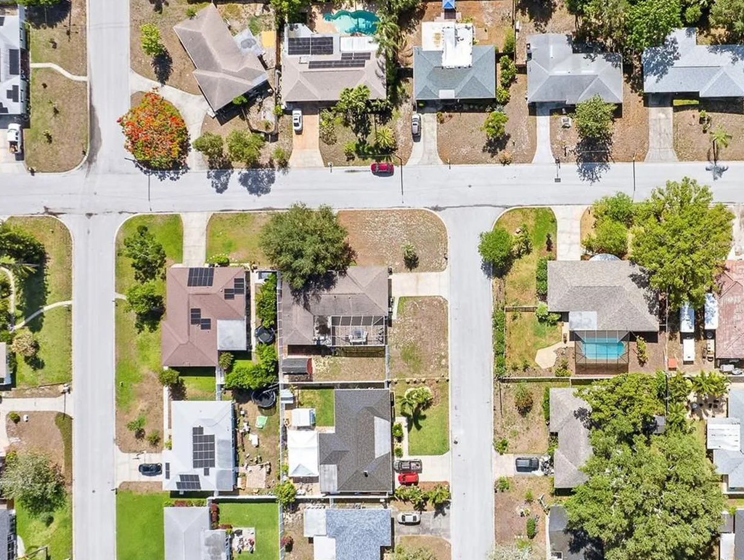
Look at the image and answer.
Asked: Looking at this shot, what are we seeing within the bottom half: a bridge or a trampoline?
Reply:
trampoline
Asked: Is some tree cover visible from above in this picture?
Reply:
Yes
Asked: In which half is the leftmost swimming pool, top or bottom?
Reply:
top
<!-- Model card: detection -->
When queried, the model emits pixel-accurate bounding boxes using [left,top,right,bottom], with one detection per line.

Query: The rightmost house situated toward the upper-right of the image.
[643,28,744,98]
